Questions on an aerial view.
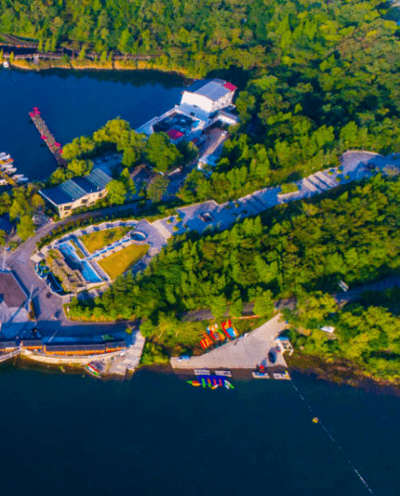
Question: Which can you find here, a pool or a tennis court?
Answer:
pool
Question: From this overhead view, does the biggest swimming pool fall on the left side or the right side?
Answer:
left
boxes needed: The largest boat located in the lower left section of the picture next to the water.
[84,366,104,379]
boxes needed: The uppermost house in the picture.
[182,79,228,113]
